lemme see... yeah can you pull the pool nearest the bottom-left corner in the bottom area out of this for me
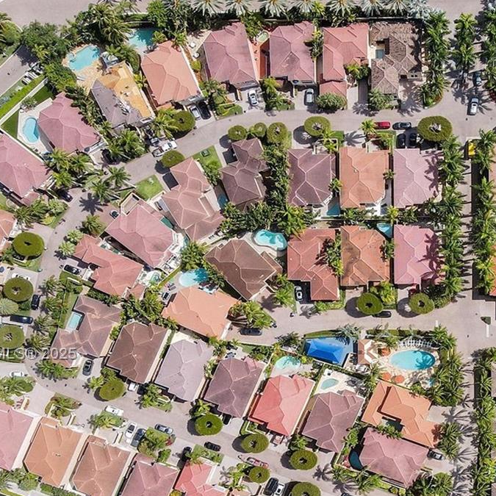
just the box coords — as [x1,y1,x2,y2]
[67,310,83,331]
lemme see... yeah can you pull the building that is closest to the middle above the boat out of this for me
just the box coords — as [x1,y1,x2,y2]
[206,238,285,299]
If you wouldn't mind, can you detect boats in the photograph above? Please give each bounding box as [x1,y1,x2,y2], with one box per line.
[234,451,266,467]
